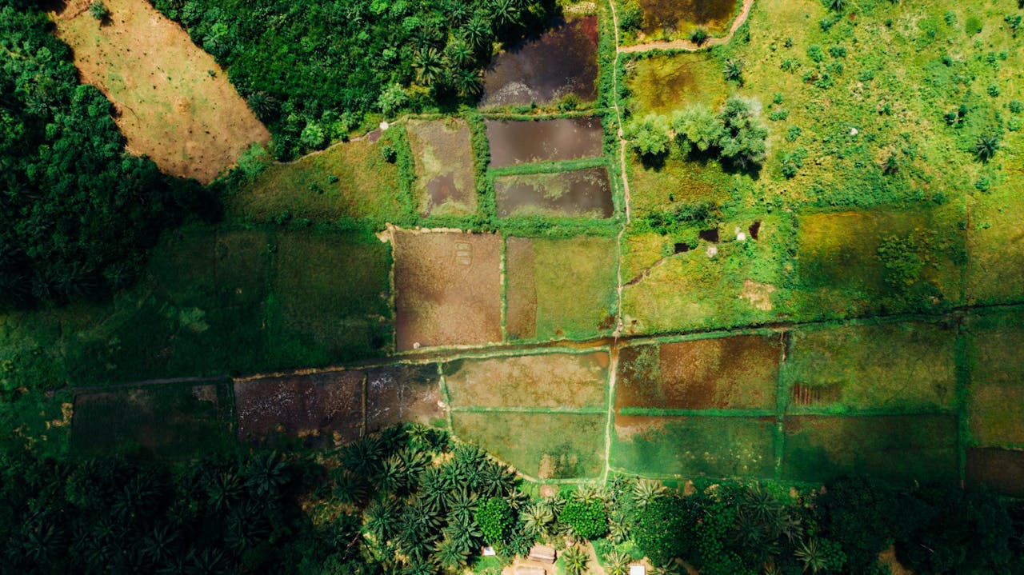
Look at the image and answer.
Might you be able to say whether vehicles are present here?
No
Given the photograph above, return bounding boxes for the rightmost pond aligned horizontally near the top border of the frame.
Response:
[643,0,736,38]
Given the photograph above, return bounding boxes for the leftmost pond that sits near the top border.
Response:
[478,13,600,107]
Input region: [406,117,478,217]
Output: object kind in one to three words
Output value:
pond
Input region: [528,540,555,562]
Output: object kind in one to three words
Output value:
shed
